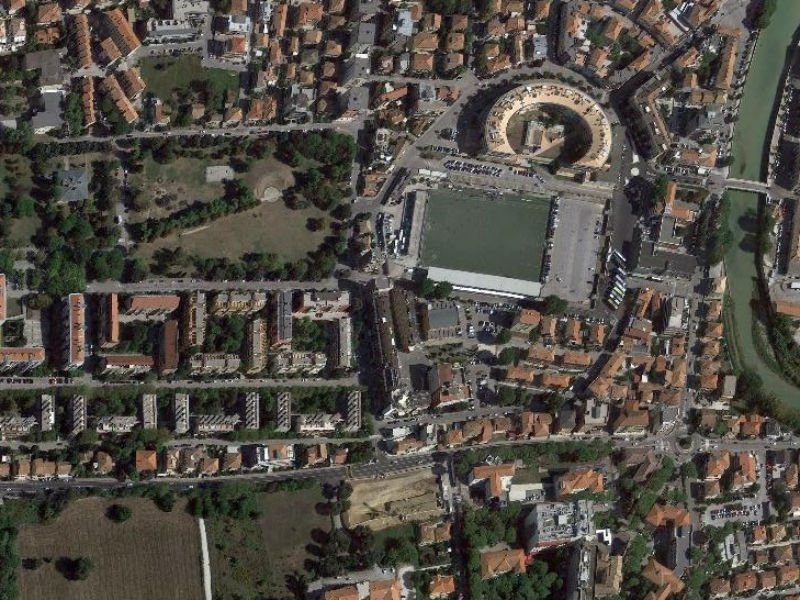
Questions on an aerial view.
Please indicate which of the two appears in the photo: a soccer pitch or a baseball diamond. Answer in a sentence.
The one in the frame is a soccer pitch.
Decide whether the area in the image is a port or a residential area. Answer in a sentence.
The area seen from above is a residential area.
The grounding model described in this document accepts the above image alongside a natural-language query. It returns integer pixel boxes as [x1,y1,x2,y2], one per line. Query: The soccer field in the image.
[421,190,551,282]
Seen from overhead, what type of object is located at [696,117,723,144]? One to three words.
house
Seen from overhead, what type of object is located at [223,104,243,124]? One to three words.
house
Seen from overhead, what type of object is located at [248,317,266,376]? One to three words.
building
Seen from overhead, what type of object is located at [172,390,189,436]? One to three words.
building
